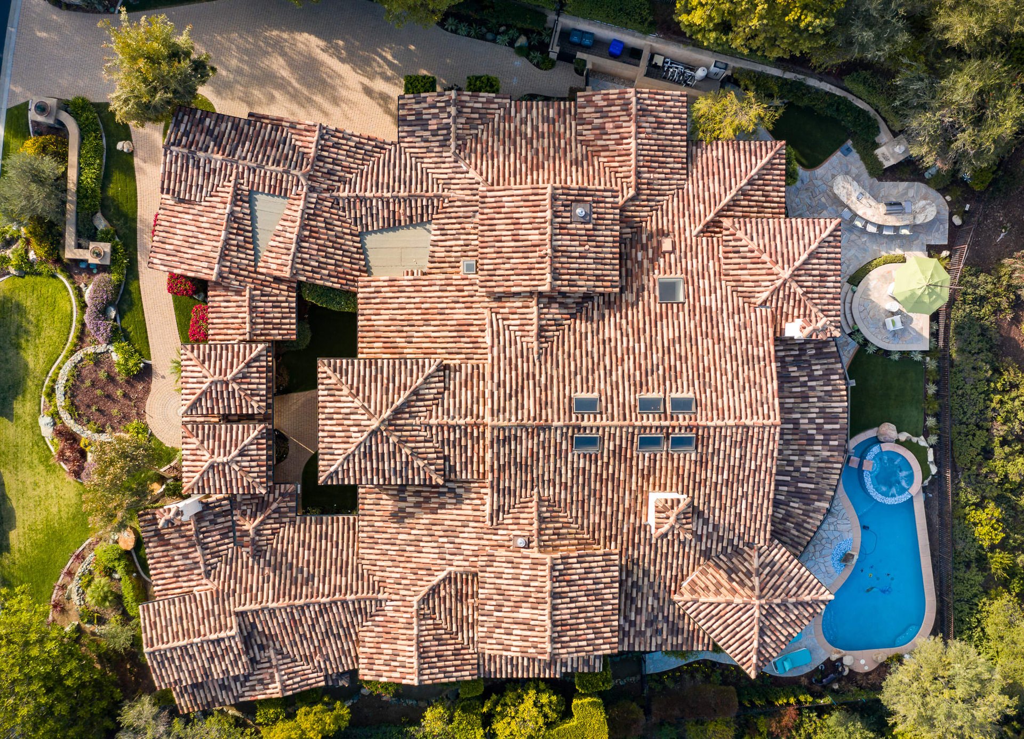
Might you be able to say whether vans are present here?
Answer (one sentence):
No, the picture doesn't show any van.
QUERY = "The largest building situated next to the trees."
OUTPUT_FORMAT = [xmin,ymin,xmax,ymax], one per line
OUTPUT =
[136,85,851,715]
